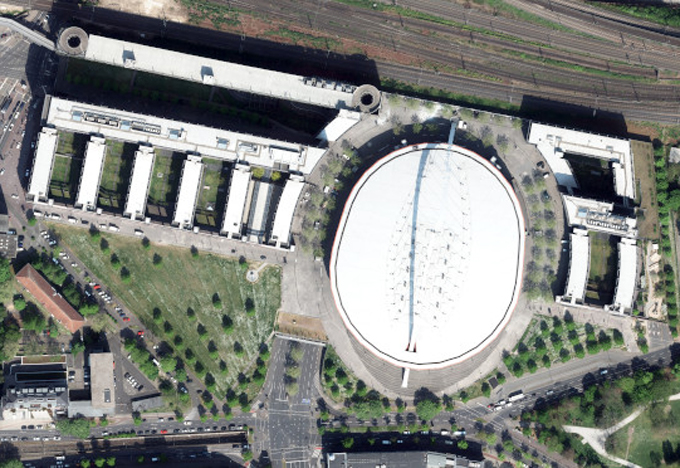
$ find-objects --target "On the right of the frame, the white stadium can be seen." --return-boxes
[331,117,526,390]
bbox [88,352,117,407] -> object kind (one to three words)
building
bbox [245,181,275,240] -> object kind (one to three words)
building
